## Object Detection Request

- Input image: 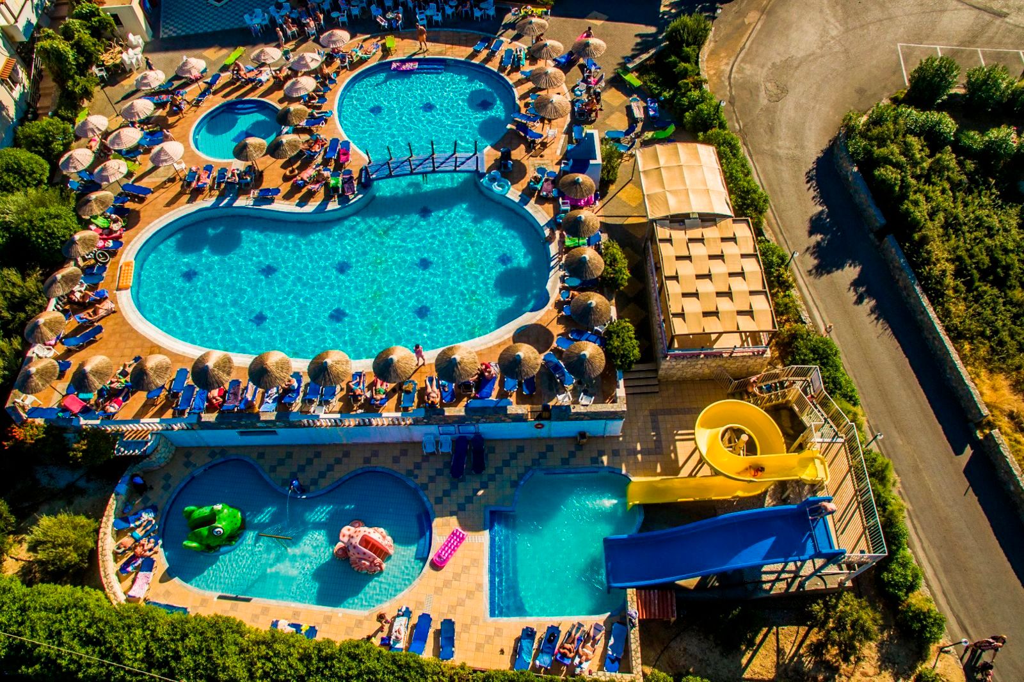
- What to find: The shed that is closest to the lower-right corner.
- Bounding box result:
[636,589,675,624]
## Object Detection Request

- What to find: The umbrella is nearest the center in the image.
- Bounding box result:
[501,345,539,385]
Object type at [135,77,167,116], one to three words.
umbrella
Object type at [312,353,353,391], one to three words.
umbrella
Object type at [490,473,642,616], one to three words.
swimming pool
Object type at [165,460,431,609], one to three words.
swimming pool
